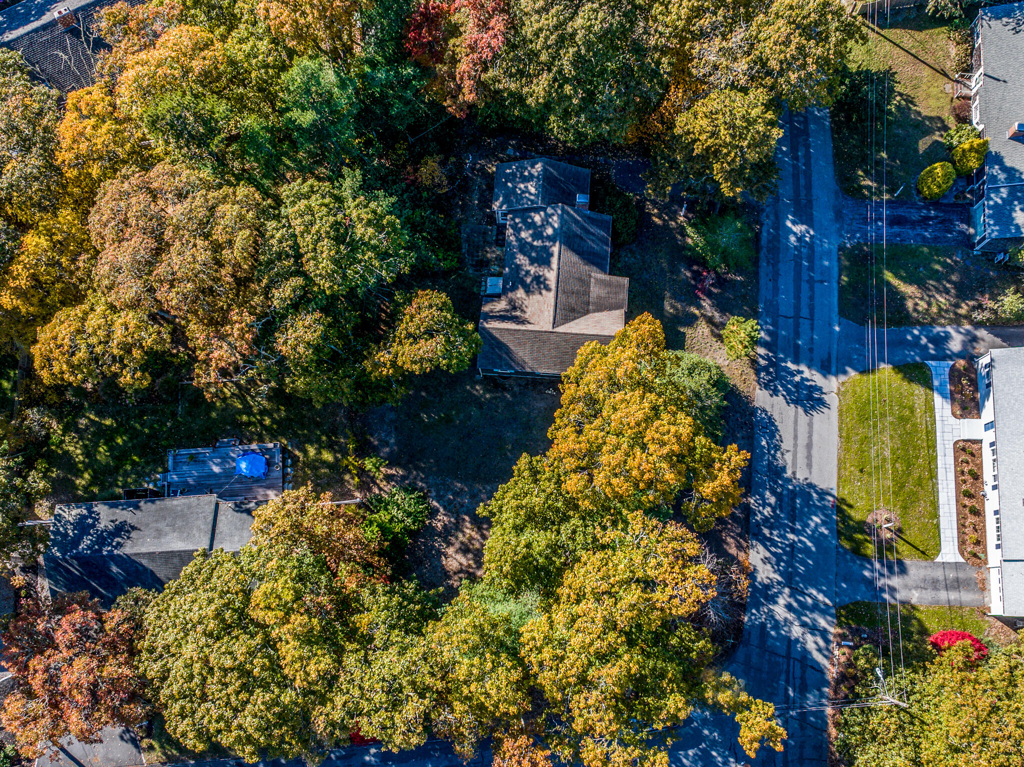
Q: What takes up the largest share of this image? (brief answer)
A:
trees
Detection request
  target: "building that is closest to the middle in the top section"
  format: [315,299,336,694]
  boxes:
[475,153,630,385]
